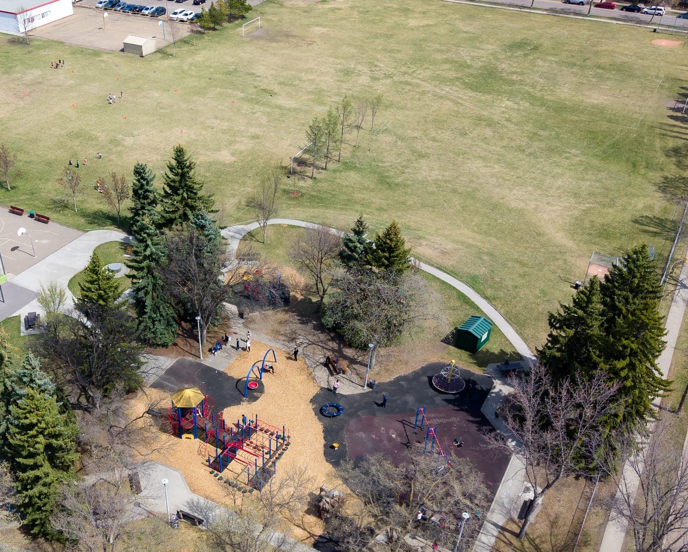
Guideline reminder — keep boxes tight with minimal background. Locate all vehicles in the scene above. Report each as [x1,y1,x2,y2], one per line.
[169,8,186,20]
[193,0,207,6]
[120,3,135,13]
[621,6,642,14]
[179,13,193,22]
[678,13,688,20]
[92,0,106,9]
[104,0,120,8]
[189,12,201,22]
[130,5,145,14]
[140,6,155,15]
[112,1,128,10]
[151,6,166,16]
[564,0,589,6]
[594,2,615,10]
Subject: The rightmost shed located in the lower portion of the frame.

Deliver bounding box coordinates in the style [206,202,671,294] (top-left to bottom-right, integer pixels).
[457,311,495,355]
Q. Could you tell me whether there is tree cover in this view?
Yes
